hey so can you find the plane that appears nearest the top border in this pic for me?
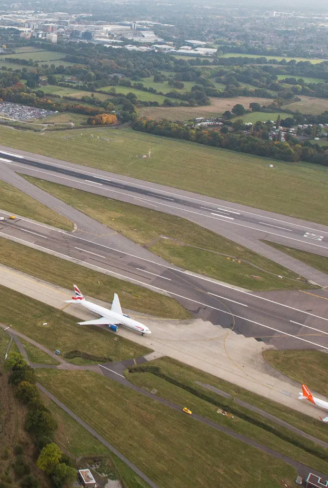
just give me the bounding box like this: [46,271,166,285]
[60,280,144,328]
